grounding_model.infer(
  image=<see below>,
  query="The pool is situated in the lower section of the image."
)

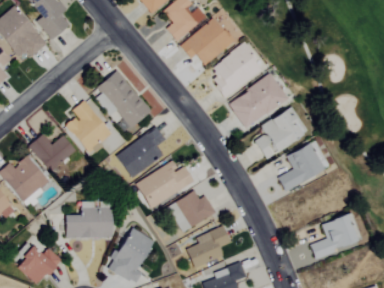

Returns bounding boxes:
[38,187,58,206]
